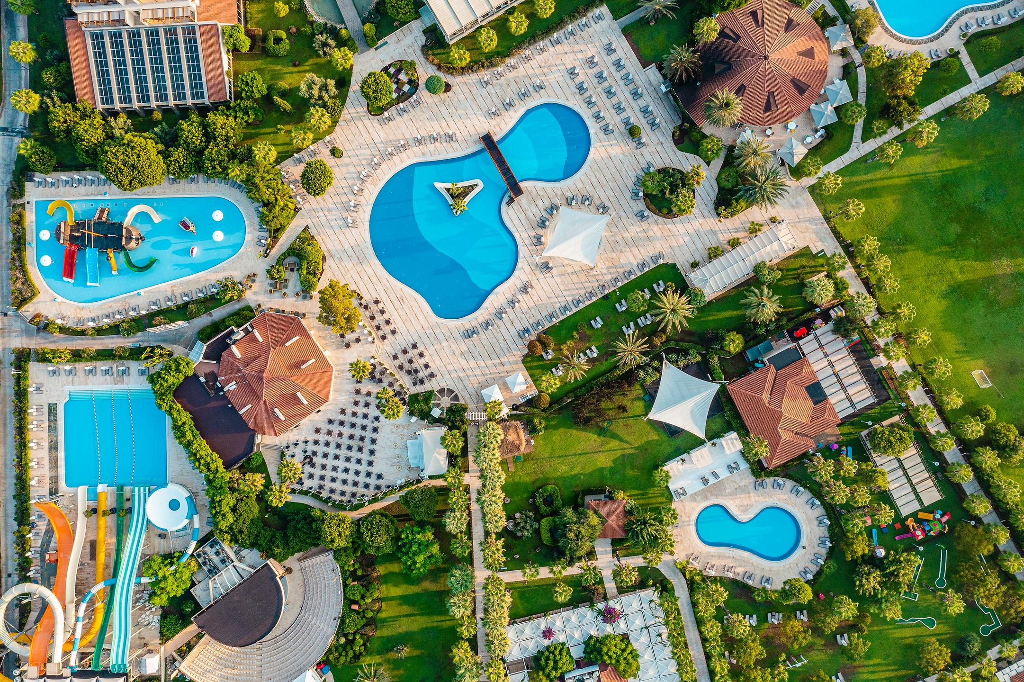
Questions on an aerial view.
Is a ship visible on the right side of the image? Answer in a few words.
No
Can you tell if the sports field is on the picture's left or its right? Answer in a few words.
right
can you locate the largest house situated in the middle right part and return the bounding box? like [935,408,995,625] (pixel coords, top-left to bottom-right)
[726,342,842,470]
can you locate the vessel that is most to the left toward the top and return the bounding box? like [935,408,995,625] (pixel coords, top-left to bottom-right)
[52,208,147,252]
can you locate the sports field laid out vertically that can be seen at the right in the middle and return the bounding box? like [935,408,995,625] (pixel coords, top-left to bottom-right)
[814,70,1024,556]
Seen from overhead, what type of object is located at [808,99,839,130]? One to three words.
umbrella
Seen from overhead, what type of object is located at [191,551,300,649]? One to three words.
building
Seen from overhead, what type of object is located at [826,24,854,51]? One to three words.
umbrella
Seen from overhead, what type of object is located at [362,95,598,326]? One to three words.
swimming pool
